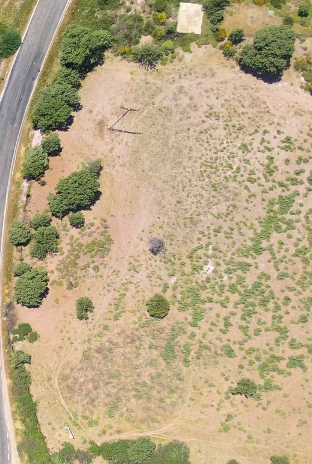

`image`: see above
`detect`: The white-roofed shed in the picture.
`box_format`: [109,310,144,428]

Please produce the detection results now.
[171,2,203,37]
